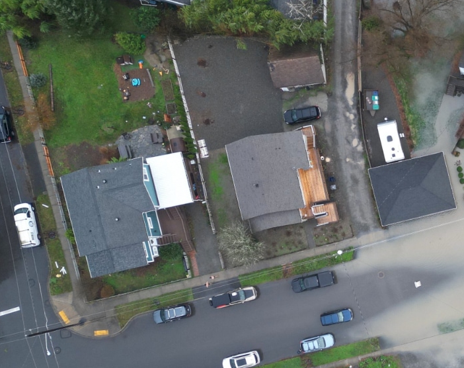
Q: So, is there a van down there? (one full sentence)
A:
Yes, I can see a van in this picture.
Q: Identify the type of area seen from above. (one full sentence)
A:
The picture captures a residential area.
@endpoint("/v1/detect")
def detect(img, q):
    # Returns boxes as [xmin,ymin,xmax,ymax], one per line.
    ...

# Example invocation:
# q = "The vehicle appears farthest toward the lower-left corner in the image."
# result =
[13,203,43,246]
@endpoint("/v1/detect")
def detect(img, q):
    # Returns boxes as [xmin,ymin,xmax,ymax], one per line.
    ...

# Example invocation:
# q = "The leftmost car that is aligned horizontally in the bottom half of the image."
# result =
[153,302,194,324]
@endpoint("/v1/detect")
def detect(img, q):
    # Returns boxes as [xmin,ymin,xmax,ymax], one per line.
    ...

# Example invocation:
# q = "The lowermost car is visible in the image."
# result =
[221,348,264,368]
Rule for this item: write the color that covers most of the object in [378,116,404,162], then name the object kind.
white camper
